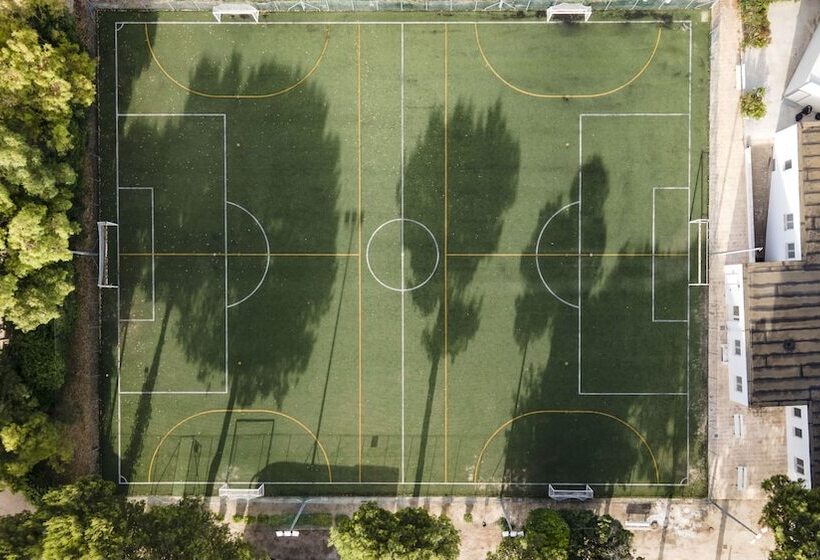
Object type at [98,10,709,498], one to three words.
soccer field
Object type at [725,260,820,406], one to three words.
building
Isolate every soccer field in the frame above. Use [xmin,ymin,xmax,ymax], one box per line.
[98,10,709,498]
[445,22,689,484]
[119,22,360,484]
